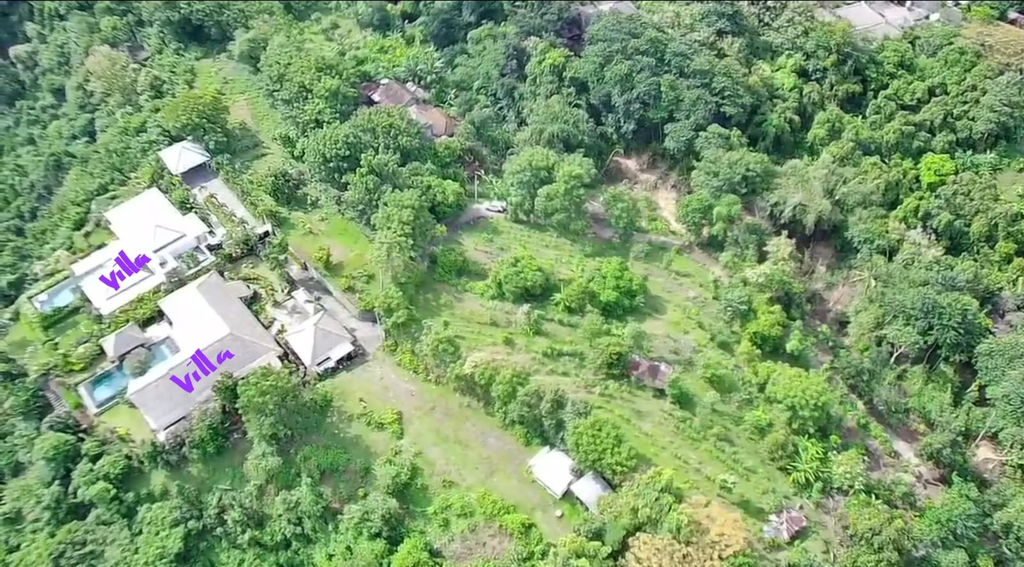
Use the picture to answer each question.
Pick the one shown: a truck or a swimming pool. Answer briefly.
swimming pool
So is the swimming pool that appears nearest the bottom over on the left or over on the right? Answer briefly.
left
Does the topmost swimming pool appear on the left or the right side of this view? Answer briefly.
left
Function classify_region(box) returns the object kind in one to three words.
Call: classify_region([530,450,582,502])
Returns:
shed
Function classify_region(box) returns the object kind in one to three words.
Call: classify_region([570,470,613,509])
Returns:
shed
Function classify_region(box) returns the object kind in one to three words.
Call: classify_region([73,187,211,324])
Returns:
house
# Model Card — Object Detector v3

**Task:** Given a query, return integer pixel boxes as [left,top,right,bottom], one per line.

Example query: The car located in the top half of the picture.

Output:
[483,199,505,211]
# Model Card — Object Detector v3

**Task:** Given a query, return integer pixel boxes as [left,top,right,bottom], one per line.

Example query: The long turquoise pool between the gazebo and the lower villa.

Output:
[78,333,181,417]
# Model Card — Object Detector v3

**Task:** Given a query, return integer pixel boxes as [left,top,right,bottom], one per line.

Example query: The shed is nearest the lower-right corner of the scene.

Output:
[771,505,808,541]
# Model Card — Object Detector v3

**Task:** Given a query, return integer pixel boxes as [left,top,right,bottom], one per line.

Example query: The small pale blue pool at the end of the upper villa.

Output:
[31,273,88,320]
